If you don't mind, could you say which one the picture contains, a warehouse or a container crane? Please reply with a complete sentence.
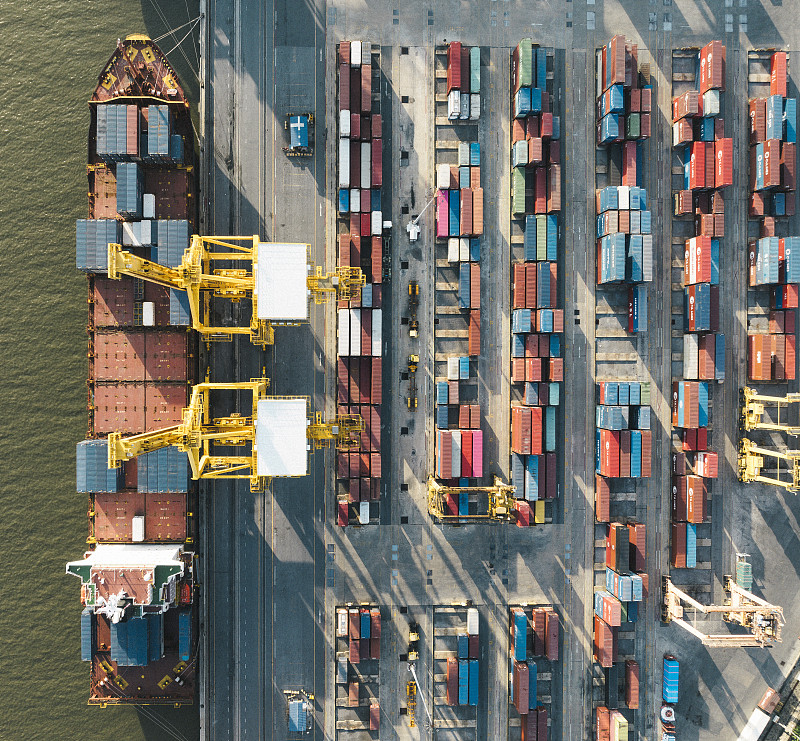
I can see a container crane in this picture.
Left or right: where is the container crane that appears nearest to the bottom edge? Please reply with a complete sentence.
The container crane that appears nearest to the bottom edge sits on the right side.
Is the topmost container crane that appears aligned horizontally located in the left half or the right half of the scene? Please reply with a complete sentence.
The topmost container crane that appears aligned horizontally appears in the left half of the scene.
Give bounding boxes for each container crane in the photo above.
[427,471,524,521]
[106,234,370,353]
[738,389,800,433]
[738,445,800,493]
[664,586,784,647]
[106,367,370,496]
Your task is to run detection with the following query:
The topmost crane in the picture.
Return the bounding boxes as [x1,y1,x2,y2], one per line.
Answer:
[403,193,437,249]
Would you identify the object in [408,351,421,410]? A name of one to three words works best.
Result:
vehicle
